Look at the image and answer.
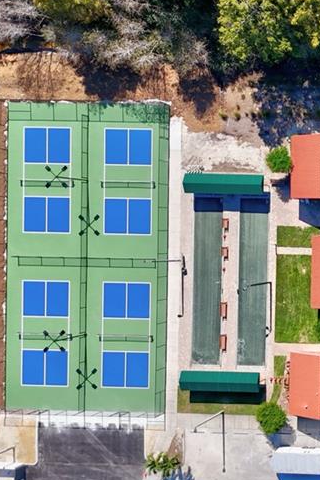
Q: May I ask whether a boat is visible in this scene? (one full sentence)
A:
No, there is no boat in the image.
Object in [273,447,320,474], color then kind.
white trailer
